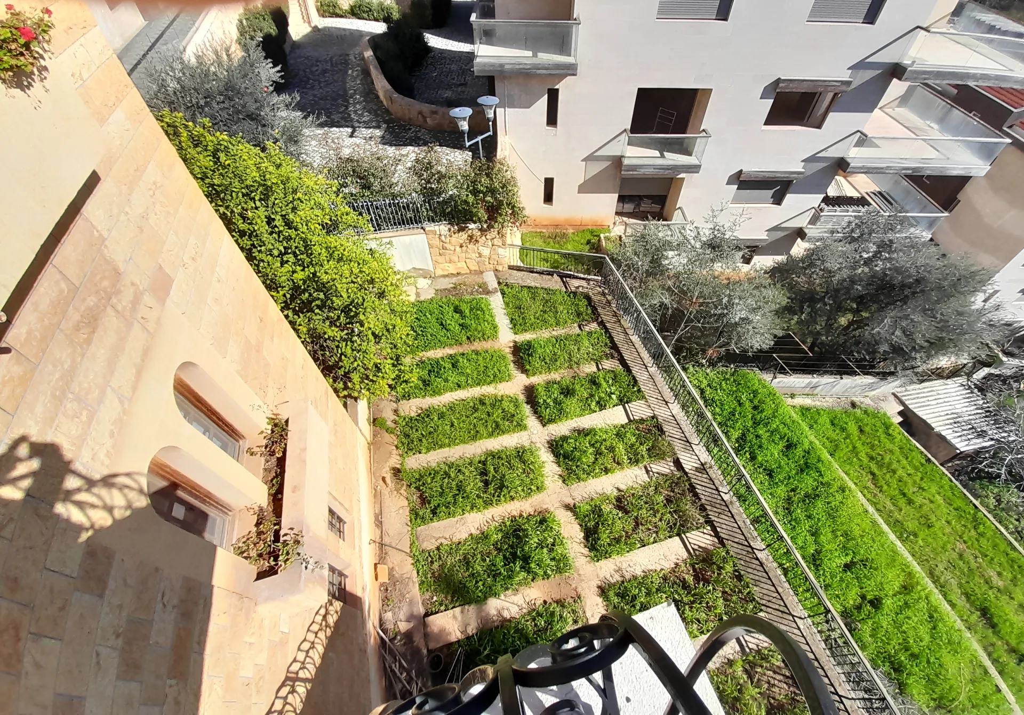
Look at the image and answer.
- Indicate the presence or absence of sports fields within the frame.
No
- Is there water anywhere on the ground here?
No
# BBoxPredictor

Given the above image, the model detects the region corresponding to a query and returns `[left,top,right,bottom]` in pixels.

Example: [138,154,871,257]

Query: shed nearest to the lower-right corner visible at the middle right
[876,375,1004,464]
